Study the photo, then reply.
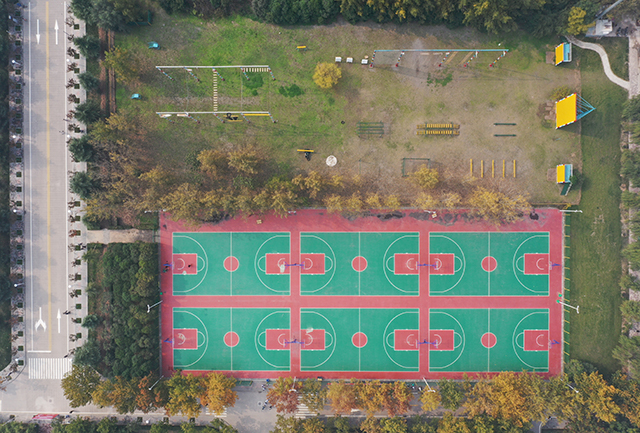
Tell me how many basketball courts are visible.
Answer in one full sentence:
The photo contains 6 basketball courts.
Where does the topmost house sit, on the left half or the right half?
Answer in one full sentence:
The topmost house appears in the right half of the scene.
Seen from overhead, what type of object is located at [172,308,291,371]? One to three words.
basketball court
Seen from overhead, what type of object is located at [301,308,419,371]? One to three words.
basketball court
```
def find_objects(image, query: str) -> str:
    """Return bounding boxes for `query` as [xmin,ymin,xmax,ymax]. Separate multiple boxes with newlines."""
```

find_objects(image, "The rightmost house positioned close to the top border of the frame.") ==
[580,20,614,41]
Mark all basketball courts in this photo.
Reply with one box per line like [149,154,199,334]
[301,232,419,296]
[172,232,291,296]
[301,308,419,371]
[429,308,549,371]
[172,308,291,371]
[429,232,549,296]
